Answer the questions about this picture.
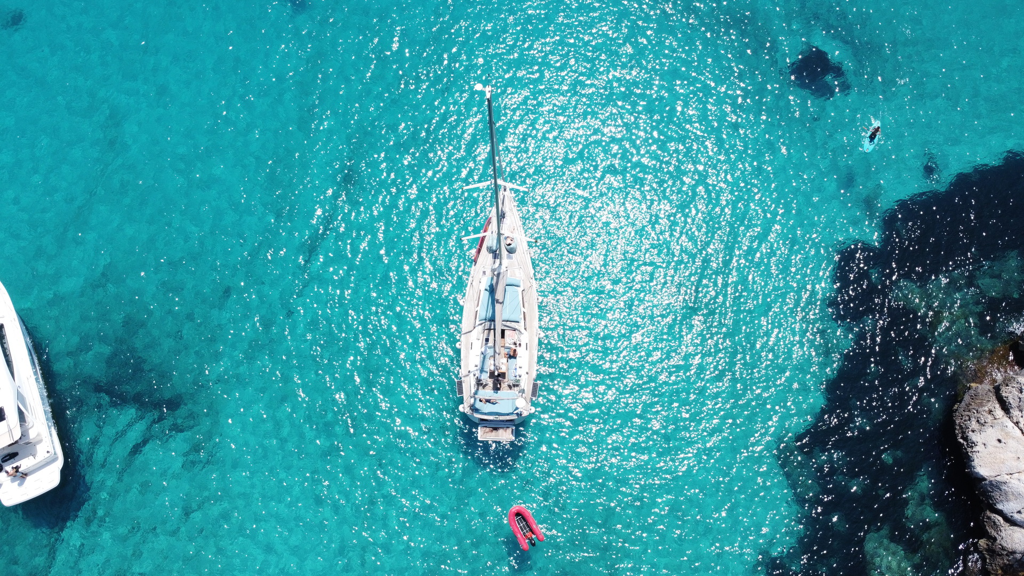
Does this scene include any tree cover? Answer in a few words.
No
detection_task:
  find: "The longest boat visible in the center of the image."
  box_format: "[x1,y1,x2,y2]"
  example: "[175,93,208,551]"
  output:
[456,74,540,442]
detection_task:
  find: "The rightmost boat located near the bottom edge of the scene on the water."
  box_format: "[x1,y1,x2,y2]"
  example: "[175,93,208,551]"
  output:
[509,504,546,551]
